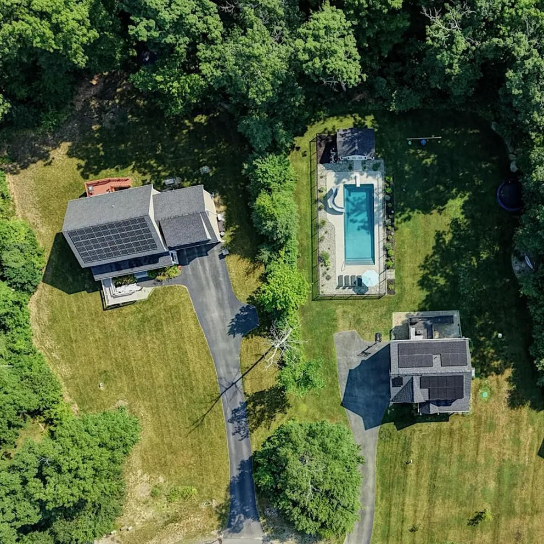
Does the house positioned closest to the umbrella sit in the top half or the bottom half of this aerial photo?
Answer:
bottom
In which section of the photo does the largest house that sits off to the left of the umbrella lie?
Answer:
left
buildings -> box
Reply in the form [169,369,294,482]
[336,124,375,160]
[63,177,219,284]
[390,310,471,414]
